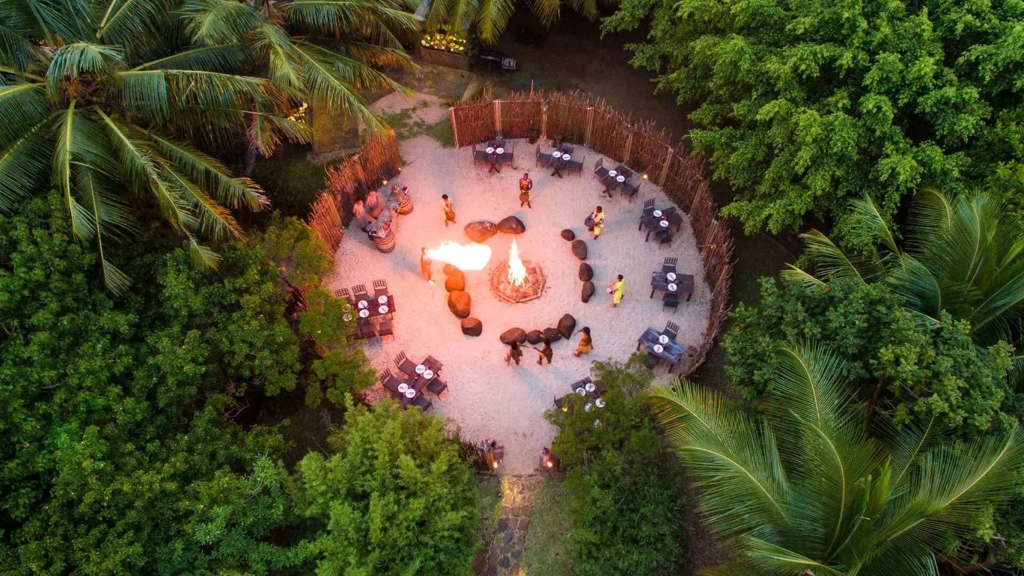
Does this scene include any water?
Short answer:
No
